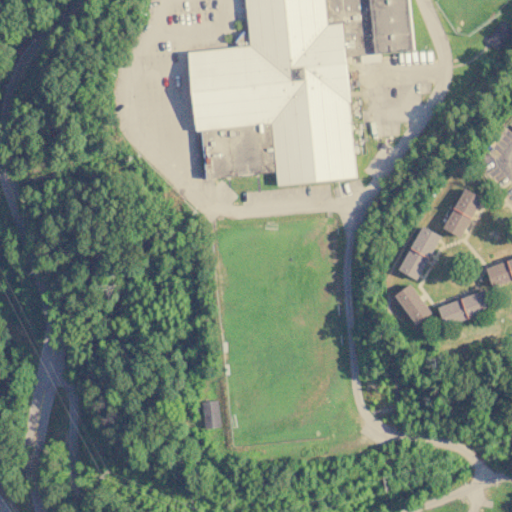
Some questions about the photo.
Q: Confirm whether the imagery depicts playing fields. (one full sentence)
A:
Yes, there is a playing field in the image.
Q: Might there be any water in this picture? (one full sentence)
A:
No, the picture contains no water.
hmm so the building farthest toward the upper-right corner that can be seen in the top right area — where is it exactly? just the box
[372,0,416,54]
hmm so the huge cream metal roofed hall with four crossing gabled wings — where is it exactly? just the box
[188,0,358,187]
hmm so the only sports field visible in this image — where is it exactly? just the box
[217,214,346,446]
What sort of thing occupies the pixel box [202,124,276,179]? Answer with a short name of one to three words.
building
